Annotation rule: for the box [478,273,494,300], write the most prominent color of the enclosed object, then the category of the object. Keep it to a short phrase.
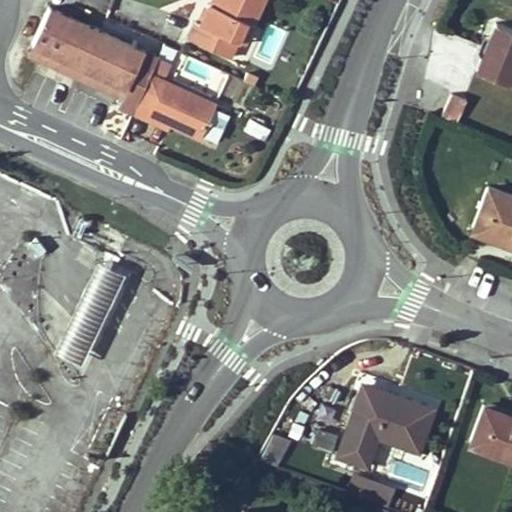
white vehicle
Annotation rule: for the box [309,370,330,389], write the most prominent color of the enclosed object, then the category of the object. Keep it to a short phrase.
white car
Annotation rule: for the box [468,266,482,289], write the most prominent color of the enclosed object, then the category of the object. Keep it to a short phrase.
white vehicle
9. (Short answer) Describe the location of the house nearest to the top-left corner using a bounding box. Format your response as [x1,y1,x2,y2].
[28,8,147,98]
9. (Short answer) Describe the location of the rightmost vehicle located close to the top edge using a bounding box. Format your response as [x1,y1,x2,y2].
[164,13,186,29]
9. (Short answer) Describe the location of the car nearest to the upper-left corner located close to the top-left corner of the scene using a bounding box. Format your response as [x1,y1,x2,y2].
[22,15,37,37]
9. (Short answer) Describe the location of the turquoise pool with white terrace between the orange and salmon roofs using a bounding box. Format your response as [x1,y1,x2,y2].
[176,56,230,99]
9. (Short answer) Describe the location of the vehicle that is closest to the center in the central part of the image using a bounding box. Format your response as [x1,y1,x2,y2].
[251,270,268,292]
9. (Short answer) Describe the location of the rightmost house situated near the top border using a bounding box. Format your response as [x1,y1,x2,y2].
[476,24,512,90]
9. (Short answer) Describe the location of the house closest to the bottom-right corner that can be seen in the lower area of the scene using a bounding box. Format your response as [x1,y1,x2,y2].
[466,404,512,468]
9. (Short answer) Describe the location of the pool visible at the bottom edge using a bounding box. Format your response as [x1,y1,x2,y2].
[385,448,442,502]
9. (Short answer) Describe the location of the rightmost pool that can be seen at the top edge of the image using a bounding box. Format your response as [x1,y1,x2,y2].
[245,22,291,72]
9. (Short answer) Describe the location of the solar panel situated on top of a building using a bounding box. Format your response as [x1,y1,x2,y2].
[150,110,194,135]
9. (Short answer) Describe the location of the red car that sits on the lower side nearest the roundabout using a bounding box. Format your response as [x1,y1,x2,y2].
[360,356,382,368]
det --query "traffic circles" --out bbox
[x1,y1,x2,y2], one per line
[230,180,382,336]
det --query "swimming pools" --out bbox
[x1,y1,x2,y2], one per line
[176,56,230,99]
[245,22,291,72]
[385,448,442,502]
